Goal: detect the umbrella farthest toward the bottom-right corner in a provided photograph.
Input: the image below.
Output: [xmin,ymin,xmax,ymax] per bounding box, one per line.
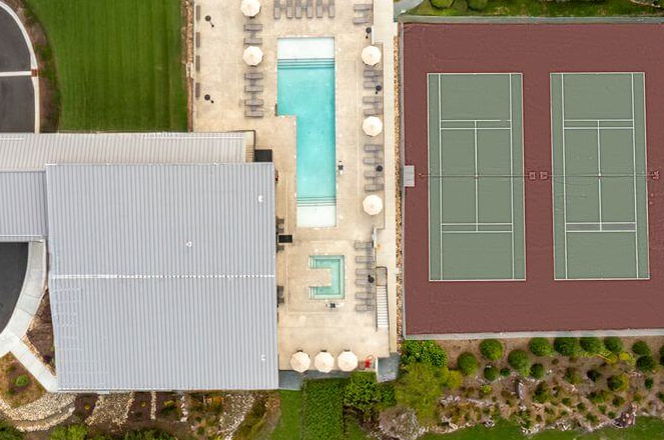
[338,351,357,371]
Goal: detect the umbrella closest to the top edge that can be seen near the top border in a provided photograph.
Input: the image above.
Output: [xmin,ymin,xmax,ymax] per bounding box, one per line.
[241,0,261,17]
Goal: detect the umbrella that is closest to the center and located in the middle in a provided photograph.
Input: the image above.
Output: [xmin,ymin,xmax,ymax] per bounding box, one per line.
[363,195,383,215]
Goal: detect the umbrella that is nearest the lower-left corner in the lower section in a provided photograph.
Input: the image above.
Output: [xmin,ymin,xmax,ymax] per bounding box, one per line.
[291,352,310,372]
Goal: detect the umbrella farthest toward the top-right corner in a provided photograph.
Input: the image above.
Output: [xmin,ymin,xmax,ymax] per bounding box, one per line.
[361,45,381,65]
